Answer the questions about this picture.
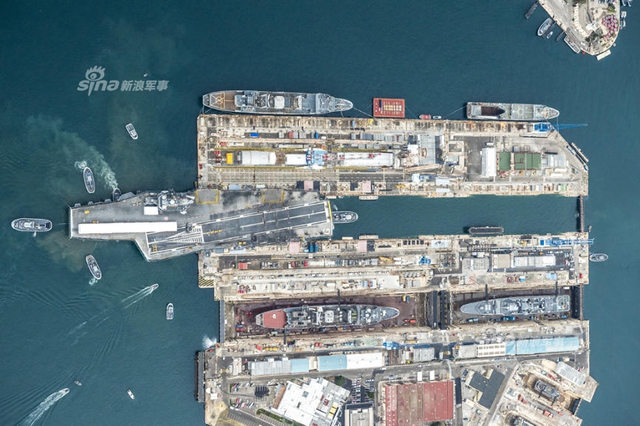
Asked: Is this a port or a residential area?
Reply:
port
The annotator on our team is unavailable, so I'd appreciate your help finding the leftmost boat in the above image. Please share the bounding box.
[11,218,52,233]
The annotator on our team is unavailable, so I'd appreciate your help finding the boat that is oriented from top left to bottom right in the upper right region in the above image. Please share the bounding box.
[564,36,581,54]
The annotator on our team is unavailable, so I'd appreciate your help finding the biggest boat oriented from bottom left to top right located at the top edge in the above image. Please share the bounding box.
[538,19,552,35]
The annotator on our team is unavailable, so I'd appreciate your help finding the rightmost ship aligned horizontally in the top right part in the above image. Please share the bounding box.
[446,102,559,129]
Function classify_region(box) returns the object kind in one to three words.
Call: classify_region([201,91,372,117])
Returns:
ship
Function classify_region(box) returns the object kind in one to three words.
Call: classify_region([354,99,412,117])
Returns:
ship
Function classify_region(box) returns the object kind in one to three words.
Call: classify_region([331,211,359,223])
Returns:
boat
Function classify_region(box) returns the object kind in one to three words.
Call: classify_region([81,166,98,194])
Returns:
boat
